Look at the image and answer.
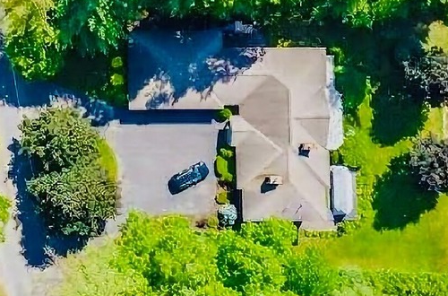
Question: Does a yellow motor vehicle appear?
No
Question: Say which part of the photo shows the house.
center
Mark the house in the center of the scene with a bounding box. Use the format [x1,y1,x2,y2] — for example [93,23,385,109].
[127,28,337,231]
